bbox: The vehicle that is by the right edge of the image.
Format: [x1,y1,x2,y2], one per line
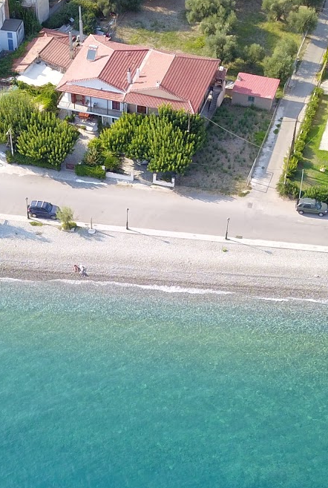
[294,197,327,217]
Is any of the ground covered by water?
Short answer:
Yes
